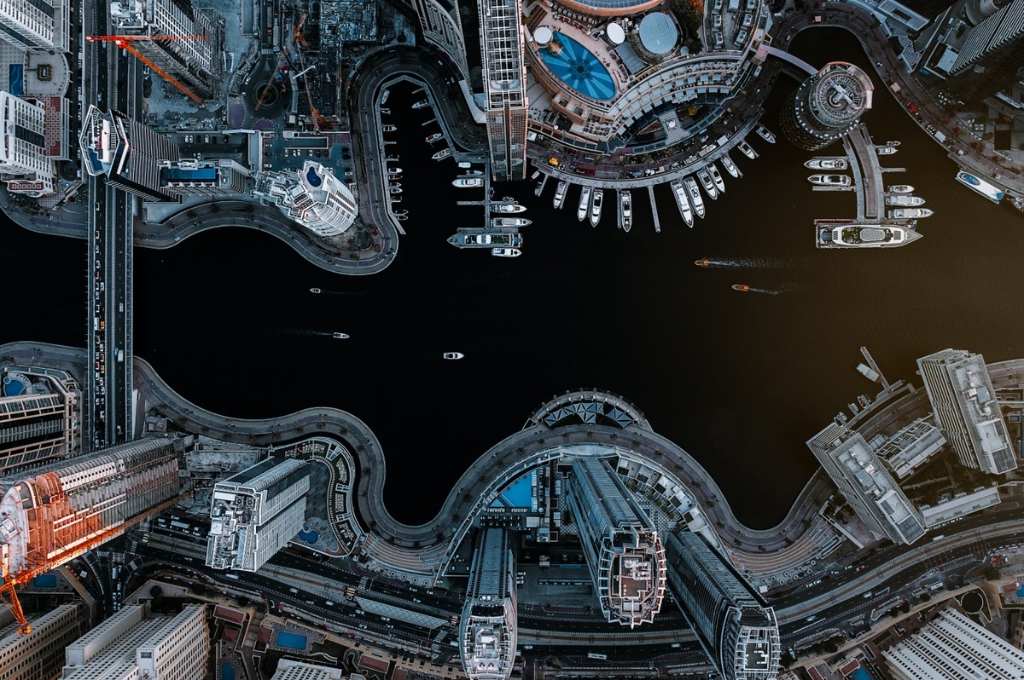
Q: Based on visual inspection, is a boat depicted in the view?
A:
Yes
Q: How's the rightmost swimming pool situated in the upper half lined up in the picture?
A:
diagonally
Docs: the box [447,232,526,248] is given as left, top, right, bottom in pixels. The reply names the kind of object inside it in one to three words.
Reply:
boat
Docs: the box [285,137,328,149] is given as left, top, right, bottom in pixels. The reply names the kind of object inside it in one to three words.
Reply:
building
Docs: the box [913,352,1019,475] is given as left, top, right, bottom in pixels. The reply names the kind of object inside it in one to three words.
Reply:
building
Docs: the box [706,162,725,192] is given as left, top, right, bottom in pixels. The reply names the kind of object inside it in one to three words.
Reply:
boat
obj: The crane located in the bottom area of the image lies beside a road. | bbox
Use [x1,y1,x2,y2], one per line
[0,490,194,638]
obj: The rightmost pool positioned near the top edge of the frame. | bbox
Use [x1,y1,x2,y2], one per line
[538,31,615,100]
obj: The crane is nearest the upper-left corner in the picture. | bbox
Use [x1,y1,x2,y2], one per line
[82,34,208,105]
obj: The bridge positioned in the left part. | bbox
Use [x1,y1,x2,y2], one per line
[87,0,135,451]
